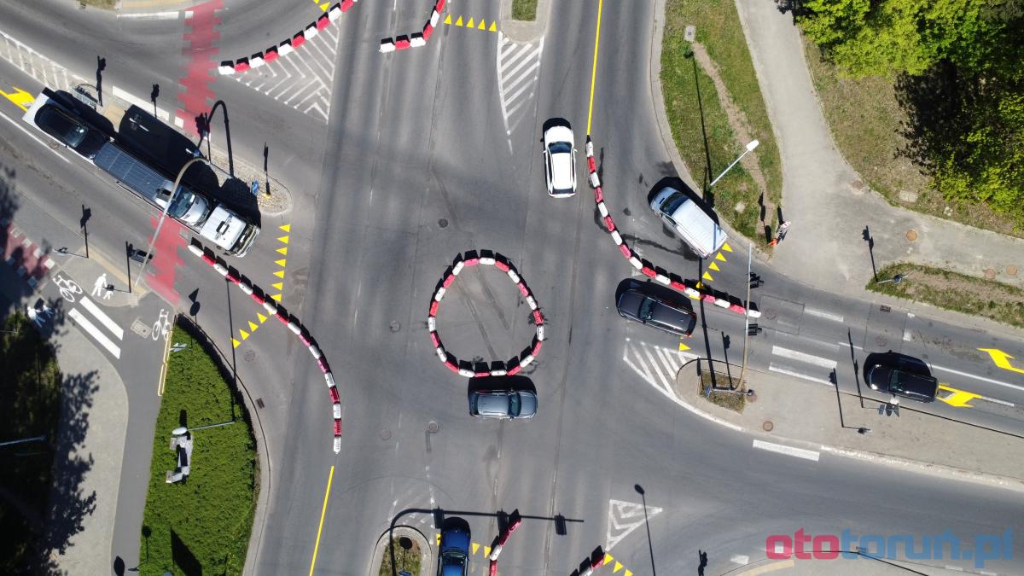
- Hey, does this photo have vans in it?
Yes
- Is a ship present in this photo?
No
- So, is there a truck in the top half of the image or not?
Yes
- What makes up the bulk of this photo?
paved ground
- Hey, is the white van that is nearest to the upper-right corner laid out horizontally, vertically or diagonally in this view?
diagonally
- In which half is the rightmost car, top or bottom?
bottom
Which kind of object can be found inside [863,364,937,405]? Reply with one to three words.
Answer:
car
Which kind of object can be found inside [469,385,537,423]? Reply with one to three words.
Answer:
car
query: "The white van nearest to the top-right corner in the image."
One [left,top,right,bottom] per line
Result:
[649,195,730,260]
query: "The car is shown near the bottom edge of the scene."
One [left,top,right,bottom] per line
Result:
[436,529,475,576]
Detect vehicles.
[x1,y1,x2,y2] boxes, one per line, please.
[21,92,261,259]
[540,127,579,198]
[863,364,937,405]
[469,385,537,423]
[649,195,730,260]
[618,291,697,340]
[436,529,475,576]
[29,98,104,157]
